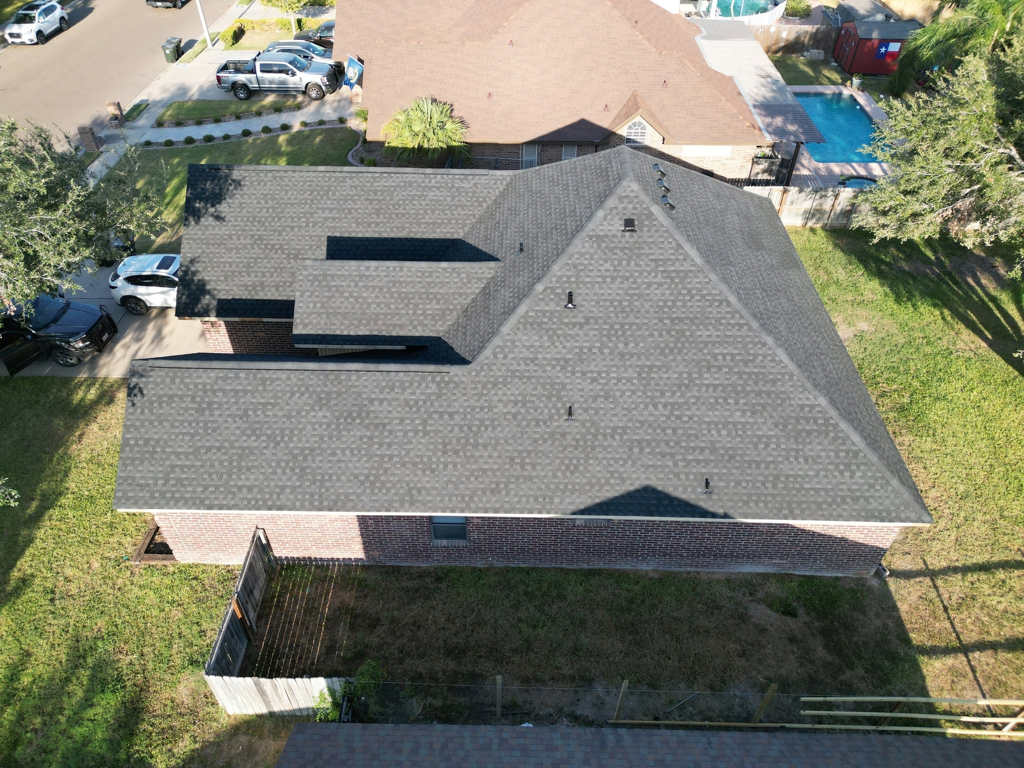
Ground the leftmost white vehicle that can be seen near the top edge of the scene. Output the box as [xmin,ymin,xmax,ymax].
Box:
[1,1,68,45]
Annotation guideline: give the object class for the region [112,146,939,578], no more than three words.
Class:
house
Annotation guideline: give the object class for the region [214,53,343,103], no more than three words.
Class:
truck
